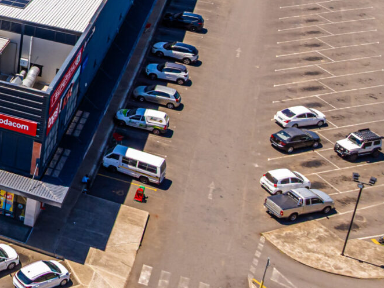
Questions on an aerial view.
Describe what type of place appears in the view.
parking lot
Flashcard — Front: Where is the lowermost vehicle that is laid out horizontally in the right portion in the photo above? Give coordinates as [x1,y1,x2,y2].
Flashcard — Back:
[265,186,341,222]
